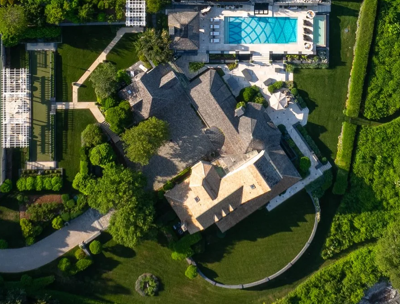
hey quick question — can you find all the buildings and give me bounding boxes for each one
[167,12,199,50]
[118,59,302,248]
